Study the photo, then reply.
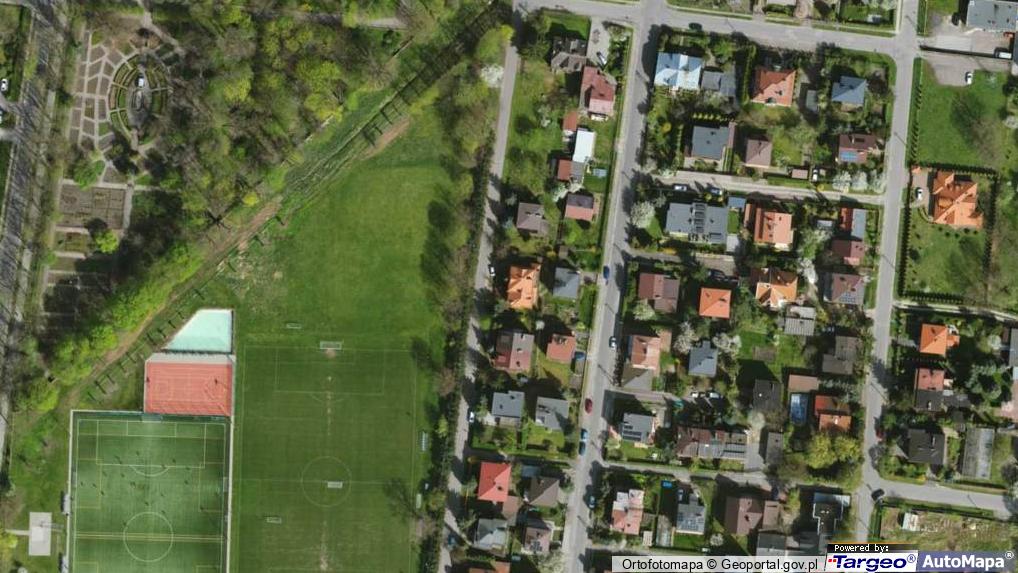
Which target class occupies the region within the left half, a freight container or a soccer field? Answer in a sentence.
Looking within the left half, you will find a soccer field.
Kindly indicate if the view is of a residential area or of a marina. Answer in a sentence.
What you see here is a residential area.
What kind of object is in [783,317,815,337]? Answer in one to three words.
shed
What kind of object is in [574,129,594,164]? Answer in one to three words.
building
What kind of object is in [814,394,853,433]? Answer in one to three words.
house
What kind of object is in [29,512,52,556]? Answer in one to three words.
basketball court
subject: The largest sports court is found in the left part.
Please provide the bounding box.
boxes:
[144,360,231,413]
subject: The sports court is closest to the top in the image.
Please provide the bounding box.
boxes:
[163,308,233,351]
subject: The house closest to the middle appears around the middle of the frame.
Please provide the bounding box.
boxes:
[507,262,541,310]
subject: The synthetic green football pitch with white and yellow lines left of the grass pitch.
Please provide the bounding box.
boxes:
[67,360,235,573]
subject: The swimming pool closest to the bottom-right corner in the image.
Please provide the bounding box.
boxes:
[790,393,807,424]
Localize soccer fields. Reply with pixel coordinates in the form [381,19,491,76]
[232,340,424,573]
[67,360,235,573]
